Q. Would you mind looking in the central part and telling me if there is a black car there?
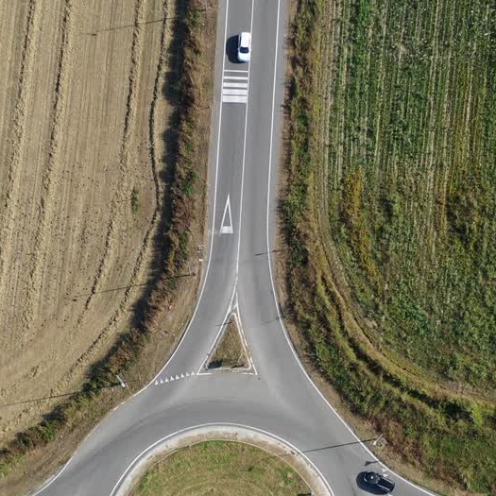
No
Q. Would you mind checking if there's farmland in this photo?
Yes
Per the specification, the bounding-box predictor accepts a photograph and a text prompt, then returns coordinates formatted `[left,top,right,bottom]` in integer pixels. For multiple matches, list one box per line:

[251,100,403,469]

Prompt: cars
[361,468,396,492]
[236,32,252,61]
